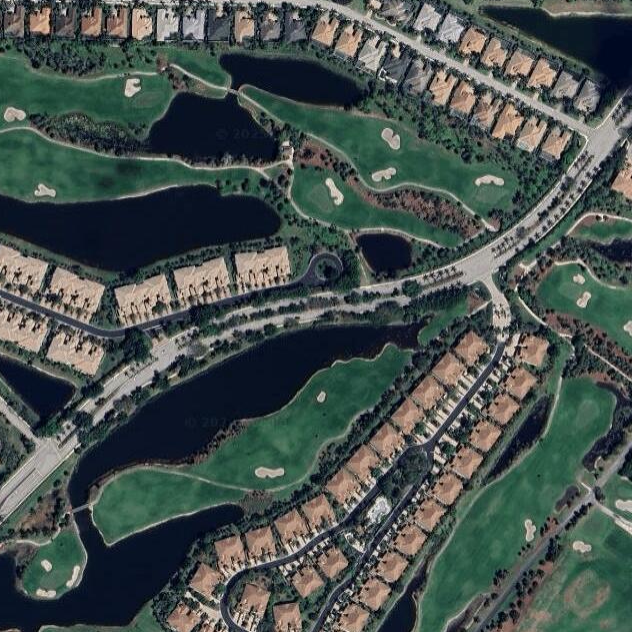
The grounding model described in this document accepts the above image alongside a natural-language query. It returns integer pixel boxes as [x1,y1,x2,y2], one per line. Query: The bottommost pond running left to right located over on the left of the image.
[0,186,279,272]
